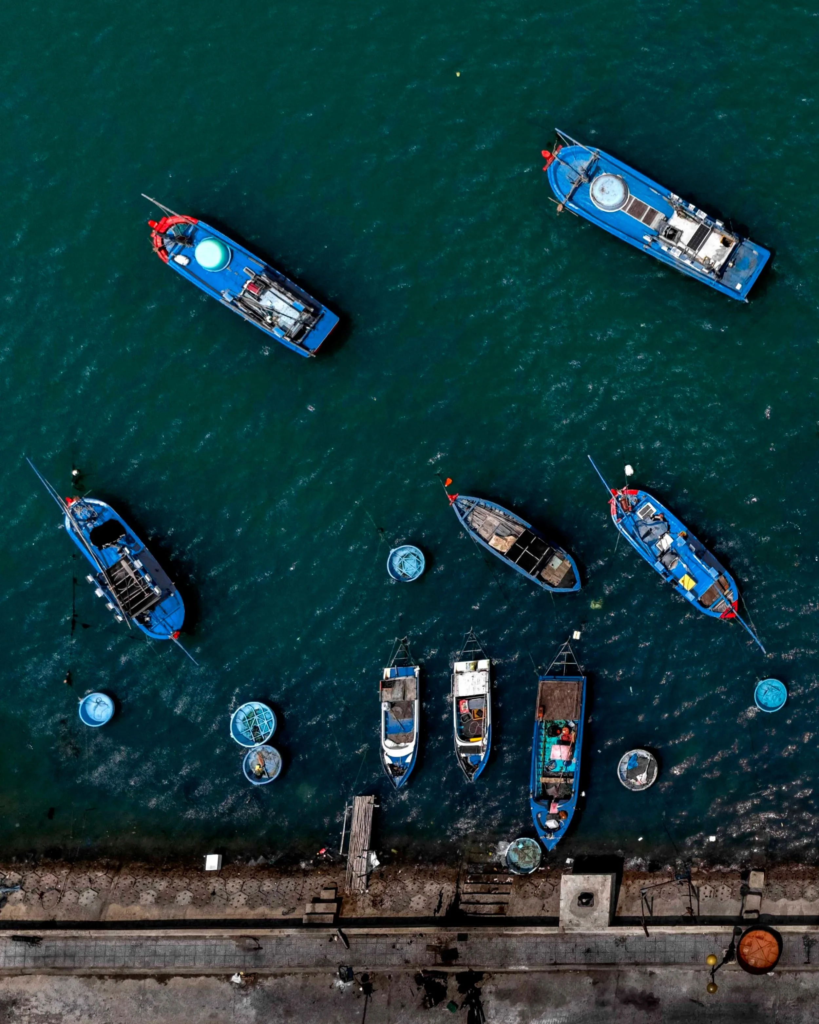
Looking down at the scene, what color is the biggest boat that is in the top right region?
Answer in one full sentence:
In this view, the biggest boat that is in the top right region is blue.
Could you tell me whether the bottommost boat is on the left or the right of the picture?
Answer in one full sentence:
The bottommost boat sits on the right side.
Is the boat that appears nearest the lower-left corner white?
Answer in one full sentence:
No, the color of the boat that appears nearest the lower-left corner is blue.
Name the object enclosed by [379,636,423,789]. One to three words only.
boat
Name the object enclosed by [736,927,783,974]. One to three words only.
boat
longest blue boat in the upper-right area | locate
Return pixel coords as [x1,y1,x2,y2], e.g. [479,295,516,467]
[540,128,770,303]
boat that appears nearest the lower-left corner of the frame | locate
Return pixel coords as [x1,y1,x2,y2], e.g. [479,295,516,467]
[78,692,115,727]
